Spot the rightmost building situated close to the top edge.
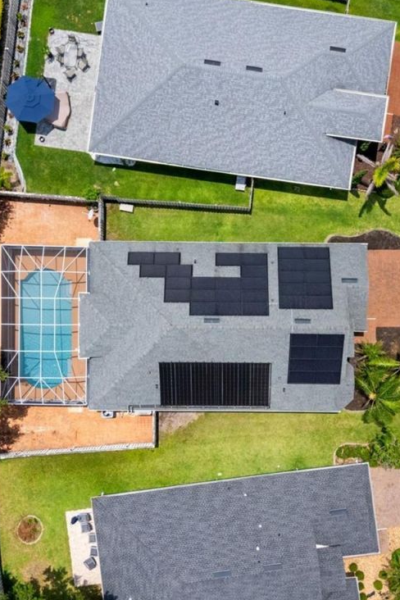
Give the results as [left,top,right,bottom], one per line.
[88,0,397,190]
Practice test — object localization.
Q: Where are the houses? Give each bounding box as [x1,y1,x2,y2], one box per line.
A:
[80,241,368,412]
[91,462,379,600]
[88,0,397,190]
